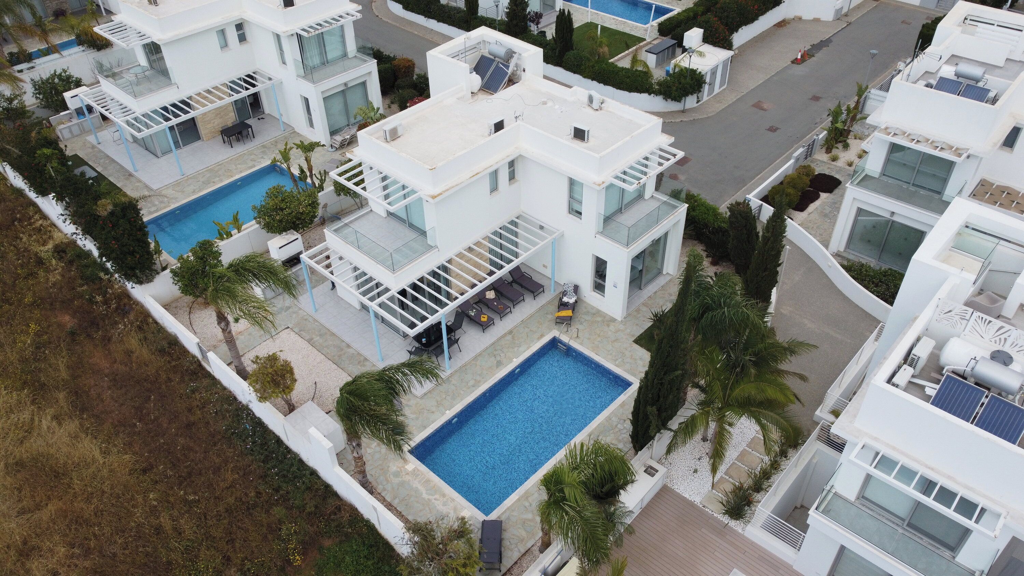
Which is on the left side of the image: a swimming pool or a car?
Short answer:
swimming pool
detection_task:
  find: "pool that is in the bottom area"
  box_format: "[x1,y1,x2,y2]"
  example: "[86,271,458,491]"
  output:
[398,319,638,525]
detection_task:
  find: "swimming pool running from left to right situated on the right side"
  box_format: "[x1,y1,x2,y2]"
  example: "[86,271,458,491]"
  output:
[571,0,675,27]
